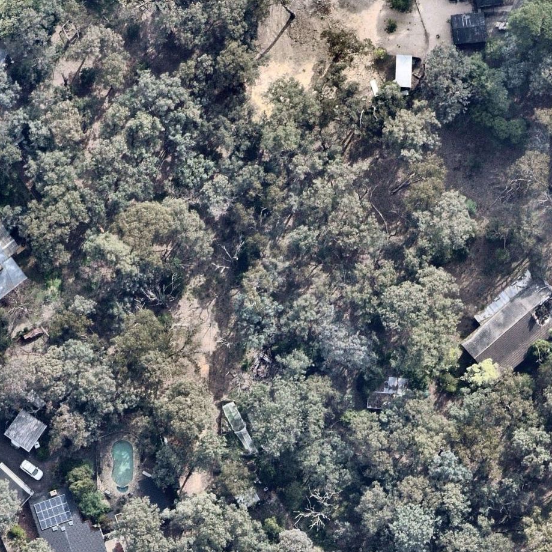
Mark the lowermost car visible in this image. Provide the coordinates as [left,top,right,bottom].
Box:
[19,461,44,479]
